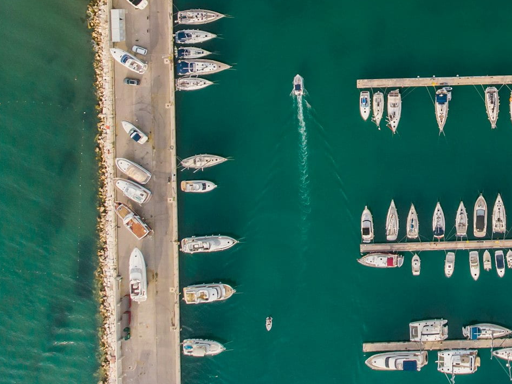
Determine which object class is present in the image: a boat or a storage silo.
boat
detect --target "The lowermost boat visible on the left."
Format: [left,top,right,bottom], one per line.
[181,342,225,359]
